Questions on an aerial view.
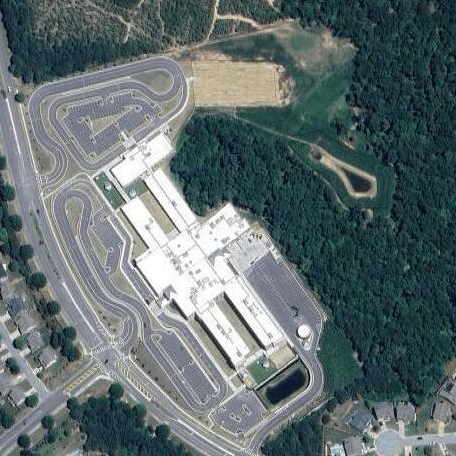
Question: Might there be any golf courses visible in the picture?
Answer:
No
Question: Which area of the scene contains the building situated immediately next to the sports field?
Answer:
center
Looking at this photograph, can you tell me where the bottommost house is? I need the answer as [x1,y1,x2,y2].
[341,438,363,456]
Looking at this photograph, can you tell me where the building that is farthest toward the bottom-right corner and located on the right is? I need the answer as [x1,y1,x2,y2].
[433,403,452,423]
